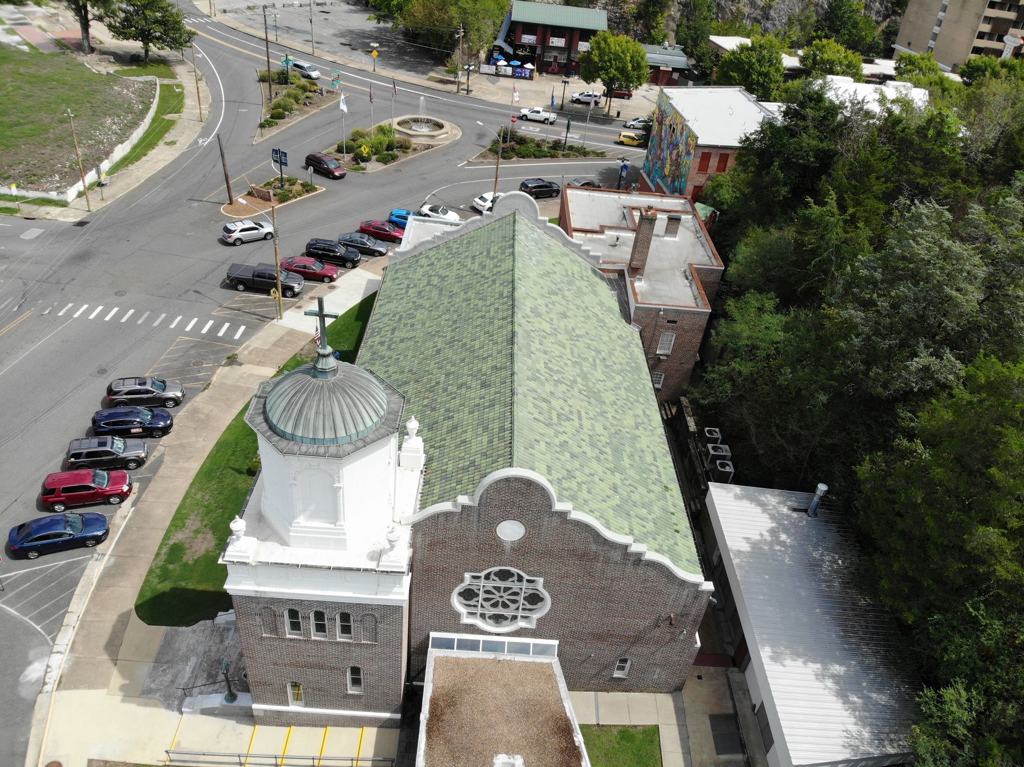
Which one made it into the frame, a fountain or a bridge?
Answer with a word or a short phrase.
fountain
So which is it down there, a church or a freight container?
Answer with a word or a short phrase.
church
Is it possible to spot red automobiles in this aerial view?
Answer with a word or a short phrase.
Yes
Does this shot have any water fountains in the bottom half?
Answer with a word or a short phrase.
No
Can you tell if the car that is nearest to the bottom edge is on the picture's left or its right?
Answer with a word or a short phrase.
left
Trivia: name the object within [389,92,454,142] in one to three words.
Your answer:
fountain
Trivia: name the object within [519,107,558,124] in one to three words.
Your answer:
vehicle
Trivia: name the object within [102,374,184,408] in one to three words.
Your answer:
car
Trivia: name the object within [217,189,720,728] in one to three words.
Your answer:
church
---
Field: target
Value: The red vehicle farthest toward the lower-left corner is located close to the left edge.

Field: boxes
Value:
[34,466,134,513]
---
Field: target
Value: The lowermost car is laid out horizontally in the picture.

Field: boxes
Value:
[2,509,112,561]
